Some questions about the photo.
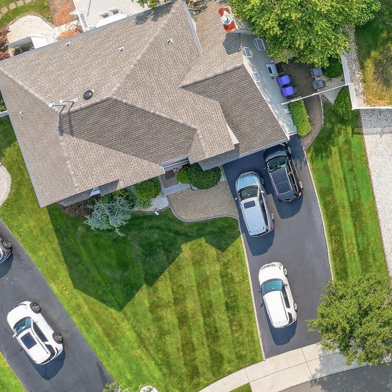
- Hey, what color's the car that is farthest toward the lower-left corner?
white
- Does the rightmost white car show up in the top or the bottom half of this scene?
bottom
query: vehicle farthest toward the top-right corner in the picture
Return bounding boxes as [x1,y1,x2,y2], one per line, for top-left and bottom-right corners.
[264,139,305,206]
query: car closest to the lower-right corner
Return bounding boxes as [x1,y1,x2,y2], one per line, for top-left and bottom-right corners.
[259,258,300,332]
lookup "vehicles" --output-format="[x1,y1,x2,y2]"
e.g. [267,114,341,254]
[264,139,305,206]
[236,168,276,239]
[12,296,65,367]
[259,258,300,332]
[0,241,10,265]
